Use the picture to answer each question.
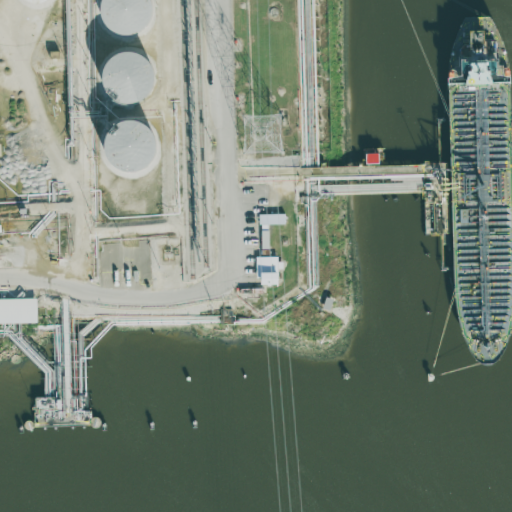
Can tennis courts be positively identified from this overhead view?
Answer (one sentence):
No, I find no tennis court anywhere in the image.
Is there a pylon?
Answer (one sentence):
Yes, you can see a pylon in this photo.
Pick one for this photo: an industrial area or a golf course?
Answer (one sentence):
The picture captures an industrial area.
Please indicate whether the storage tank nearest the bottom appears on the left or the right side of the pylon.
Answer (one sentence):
Relative to the pylon, the storage tank nearest the bottom is on the left.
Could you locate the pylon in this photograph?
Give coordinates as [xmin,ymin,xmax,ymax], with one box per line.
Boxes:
[243,114,284,154]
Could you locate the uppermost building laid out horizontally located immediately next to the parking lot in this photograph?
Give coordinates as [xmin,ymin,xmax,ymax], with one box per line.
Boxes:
[260,214,286,226]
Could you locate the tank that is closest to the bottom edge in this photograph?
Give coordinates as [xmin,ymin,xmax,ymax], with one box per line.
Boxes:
[102,118,162,178]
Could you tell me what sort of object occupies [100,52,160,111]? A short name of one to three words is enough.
storage tank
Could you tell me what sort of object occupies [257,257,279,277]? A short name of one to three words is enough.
building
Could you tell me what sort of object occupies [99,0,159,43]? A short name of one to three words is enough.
storage tank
